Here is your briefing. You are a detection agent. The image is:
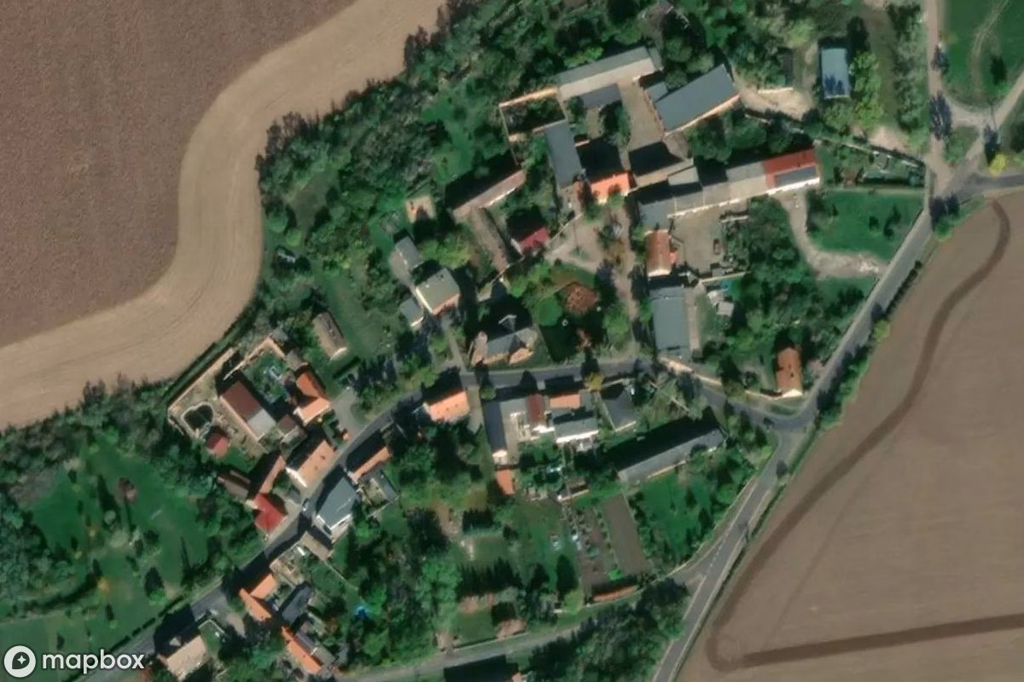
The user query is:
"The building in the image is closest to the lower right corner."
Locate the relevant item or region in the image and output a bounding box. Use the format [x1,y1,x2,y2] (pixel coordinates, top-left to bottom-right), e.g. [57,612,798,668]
[772,350,803,398]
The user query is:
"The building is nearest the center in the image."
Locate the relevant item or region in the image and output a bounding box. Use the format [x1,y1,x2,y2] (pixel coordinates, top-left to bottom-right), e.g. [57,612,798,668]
[467,318,535,369]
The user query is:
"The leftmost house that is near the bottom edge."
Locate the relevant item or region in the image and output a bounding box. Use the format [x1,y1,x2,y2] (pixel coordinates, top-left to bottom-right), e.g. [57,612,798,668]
[154,631,207,682]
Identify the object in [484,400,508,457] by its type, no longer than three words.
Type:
barn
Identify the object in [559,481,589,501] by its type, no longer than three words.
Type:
shed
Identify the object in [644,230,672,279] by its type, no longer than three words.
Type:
house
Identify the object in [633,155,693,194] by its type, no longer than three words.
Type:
building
